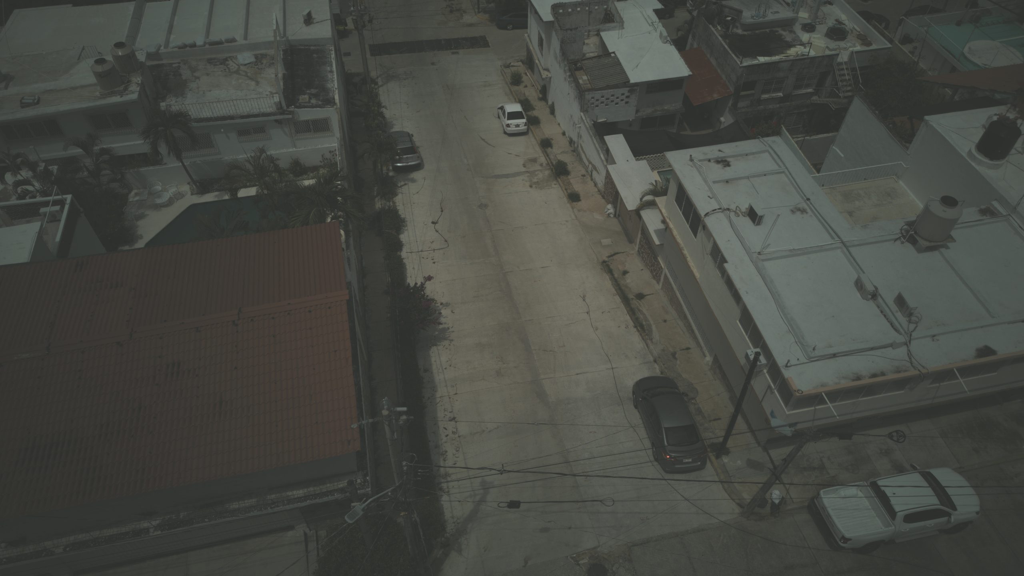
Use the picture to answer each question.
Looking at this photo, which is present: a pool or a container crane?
pool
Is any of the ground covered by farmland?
No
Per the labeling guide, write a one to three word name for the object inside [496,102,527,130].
car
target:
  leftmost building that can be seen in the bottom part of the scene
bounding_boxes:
[0,220,359,546]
